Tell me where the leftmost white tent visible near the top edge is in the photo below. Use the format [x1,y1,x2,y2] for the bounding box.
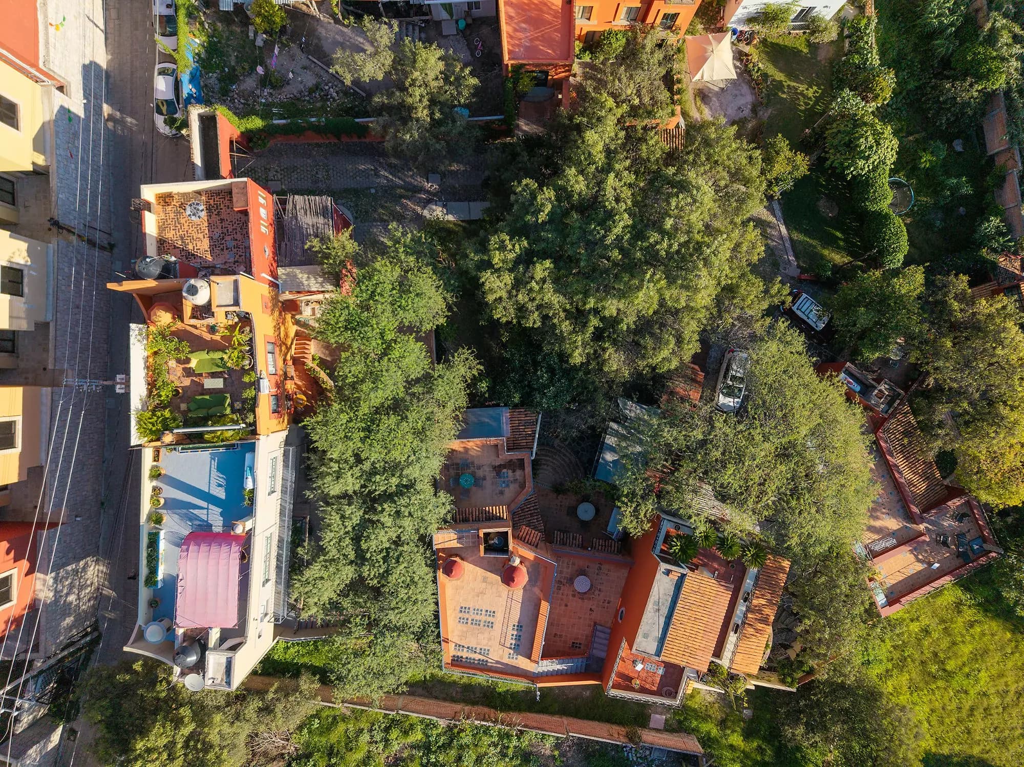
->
[681,31,737,99]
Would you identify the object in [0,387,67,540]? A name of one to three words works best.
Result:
house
